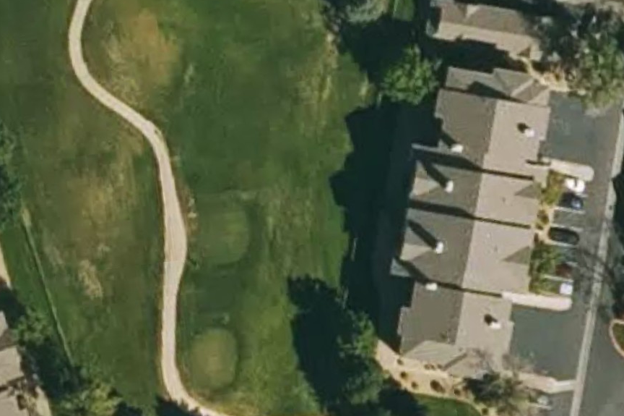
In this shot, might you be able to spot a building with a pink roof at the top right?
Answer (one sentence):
No, no building with a pink roof can be made out at the top right.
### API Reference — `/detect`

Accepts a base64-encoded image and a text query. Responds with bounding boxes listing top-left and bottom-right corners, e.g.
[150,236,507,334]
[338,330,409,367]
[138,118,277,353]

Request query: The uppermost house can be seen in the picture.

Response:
[432,2,540,63]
